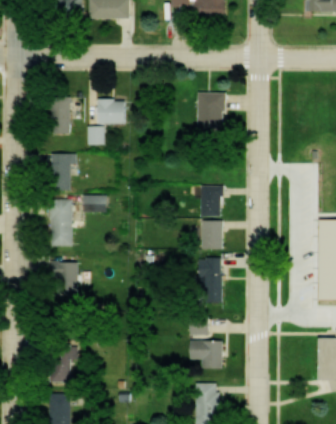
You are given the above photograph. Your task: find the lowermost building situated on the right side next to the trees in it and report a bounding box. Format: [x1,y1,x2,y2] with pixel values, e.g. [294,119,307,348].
[195,384,219,424]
